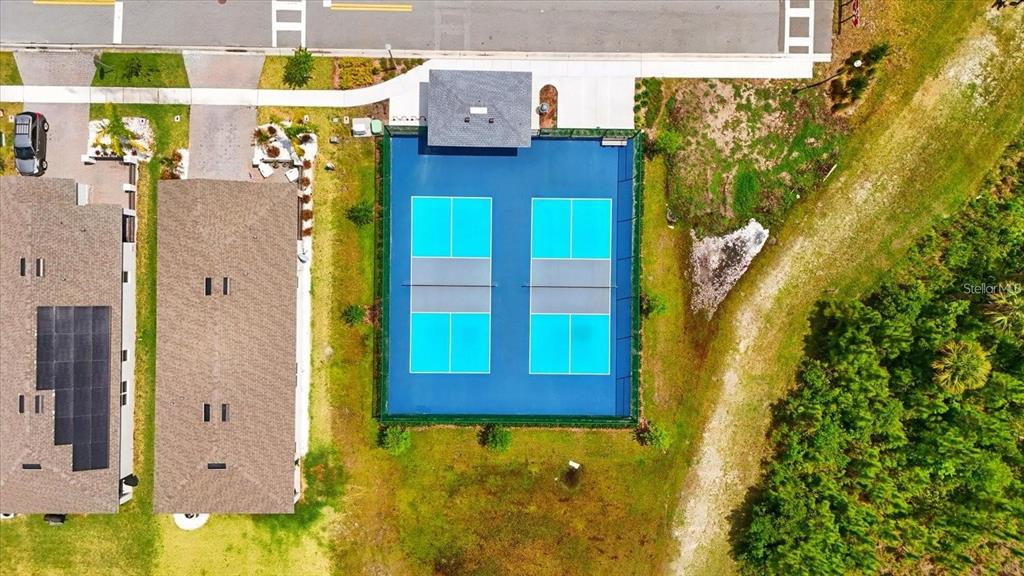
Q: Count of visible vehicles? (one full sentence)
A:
In total, 1 vehicle can be seen.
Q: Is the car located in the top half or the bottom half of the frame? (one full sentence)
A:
Seen from above, the car lies in the top half of the view.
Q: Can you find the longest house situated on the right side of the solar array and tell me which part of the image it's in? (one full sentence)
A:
The longest house situated on the right side of the solar array is located in the left region of the scene.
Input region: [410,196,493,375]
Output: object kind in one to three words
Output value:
sports court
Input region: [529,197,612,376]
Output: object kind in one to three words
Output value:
sports court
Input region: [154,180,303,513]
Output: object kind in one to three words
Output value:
house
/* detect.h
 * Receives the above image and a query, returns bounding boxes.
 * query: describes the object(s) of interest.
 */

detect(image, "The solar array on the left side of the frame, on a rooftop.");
[37,306,111,470]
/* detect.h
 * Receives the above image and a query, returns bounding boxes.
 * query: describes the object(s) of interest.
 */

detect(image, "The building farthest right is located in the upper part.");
[428,70,532,147]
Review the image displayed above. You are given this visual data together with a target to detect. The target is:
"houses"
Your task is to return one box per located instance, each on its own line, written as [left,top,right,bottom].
[154,180,303,513]
[0,176,142,514]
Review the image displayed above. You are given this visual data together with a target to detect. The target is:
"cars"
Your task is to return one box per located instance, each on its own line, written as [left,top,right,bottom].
[12,112,49,176]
